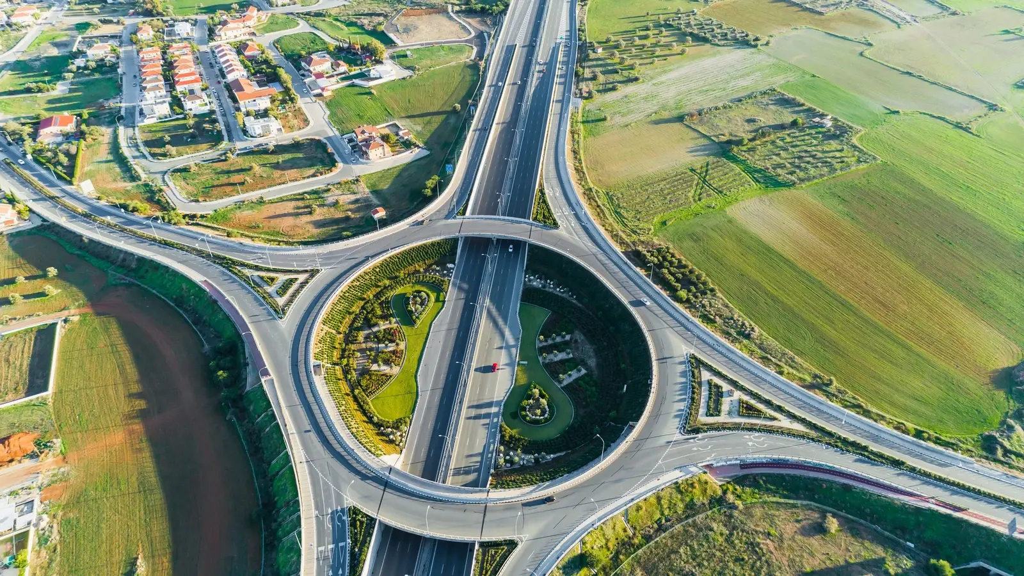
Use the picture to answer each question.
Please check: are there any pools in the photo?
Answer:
No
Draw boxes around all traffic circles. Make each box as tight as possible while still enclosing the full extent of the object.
[32,14,767,576]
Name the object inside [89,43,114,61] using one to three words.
house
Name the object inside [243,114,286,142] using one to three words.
house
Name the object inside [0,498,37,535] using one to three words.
shed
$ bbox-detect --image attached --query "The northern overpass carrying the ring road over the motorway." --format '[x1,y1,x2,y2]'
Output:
[448,213,565,255]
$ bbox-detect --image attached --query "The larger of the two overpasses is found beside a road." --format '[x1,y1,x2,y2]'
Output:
[339,476,542,554]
